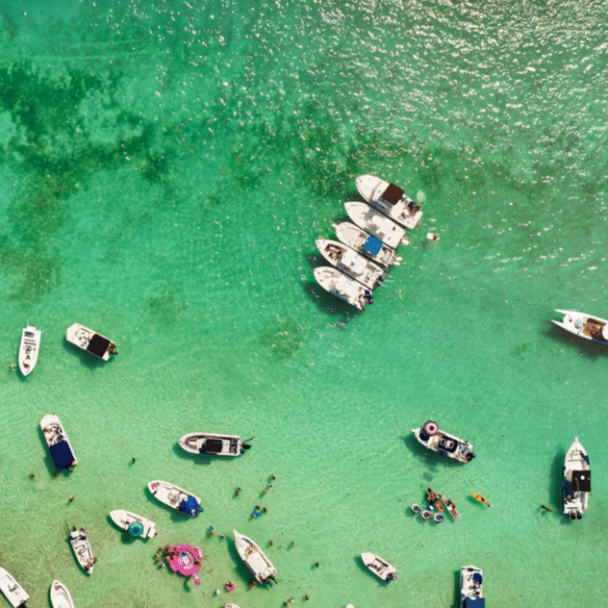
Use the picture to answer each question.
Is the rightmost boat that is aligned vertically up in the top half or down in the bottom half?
bottom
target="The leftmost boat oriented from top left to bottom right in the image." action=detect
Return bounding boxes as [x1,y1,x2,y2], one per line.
[0,569,29,608]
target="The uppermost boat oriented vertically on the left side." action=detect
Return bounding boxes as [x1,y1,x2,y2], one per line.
[18,323,42,376]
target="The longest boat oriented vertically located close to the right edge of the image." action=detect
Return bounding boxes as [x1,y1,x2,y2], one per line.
[559,434,591,520]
